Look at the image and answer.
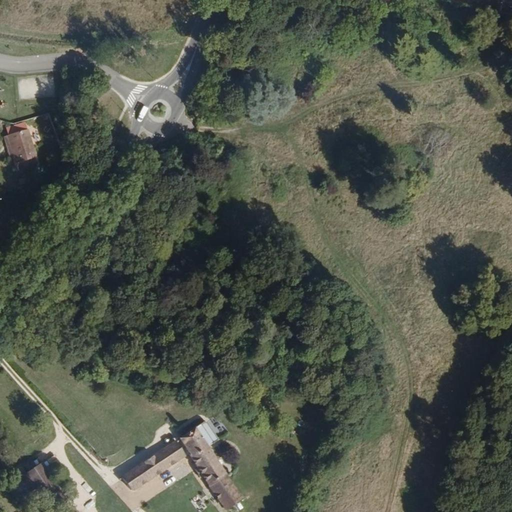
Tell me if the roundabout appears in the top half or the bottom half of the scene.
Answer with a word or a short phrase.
top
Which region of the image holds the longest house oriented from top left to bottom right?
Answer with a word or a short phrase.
bottom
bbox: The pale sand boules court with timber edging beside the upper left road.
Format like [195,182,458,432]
[18,76,55,100]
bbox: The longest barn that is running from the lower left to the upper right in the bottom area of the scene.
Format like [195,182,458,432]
[122,440,189,492]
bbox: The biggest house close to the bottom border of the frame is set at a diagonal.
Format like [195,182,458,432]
[180,421,245,510]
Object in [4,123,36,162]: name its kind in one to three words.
house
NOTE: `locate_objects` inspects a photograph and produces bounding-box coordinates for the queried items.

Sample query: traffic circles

[134,86,184,136]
